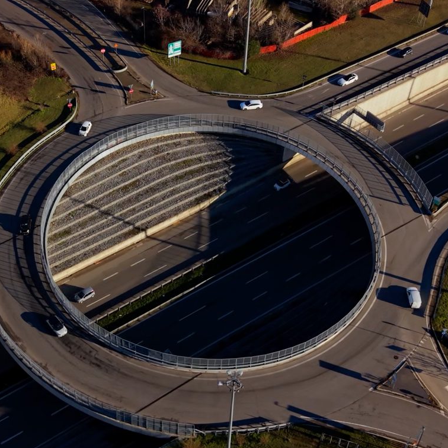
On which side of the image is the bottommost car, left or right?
left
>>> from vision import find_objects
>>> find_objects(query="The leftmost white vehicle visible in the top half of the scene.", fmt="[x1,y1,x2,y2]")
[78,120,92,138]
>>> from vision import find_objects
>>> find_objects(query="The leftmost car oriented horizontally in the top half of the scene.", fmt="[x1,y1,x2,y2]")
[239,99,263,111]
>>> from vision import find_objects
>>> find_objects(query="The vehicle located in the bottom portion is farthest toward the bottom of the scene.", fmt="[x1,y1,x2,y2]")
[44,312,68,338]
